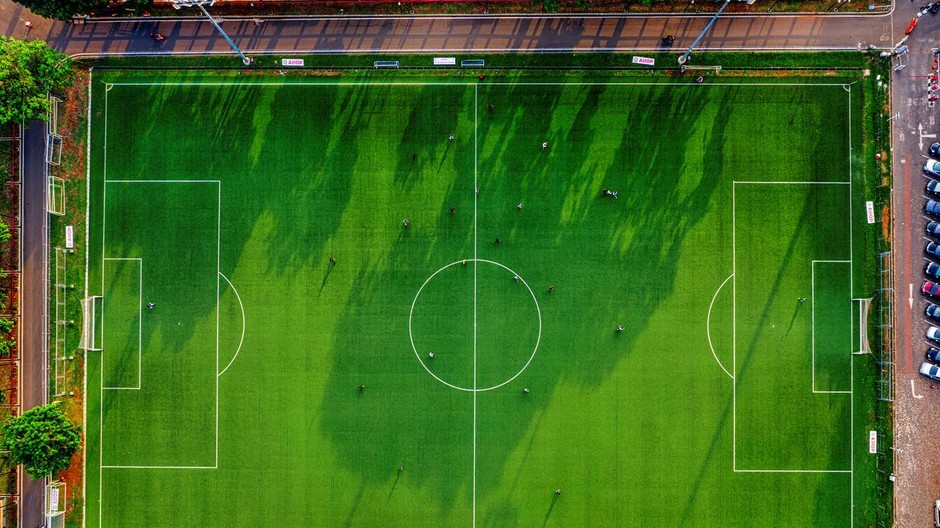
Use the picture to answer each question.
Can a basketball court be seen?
No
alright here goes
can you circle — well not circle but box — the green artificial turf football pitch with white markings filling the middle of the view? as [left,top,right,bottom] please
[84,76,865,528]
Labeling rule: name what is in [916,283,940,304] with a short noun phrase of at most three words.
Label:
car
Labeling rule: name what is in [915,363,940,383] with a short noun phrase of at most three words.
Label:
car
